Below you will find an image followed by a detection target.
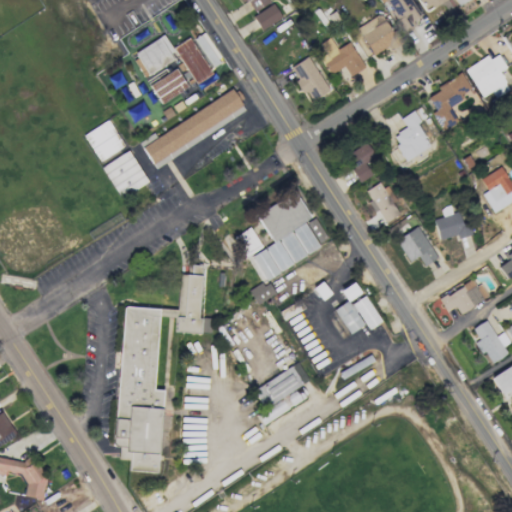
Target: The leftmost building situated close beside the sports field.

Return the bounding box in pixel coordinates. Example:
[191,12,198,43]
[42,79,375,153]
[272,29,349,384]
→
[116,264,213,474]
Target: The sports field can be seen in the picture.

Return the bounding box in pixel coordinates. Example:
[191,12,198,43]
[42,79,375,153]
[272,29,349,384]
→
[216,404,464,512]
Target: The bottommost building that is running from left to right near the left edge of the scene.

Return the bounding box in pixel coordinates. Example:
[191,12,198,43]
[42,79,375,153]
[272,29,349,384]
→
[2,274,38,290]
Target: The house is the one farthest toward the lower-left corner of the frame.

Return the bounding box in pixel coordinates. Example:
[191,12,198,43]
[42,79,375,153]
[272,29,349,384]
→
[0,460,48,500]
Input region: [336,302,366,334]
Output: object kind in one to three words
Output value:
building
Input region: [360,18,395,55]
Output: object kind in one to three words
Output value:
house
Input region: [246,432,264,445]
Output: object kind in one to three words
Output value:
vehicle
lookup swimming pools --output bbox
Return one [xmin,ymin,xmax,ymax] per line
[475,272,498,296]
